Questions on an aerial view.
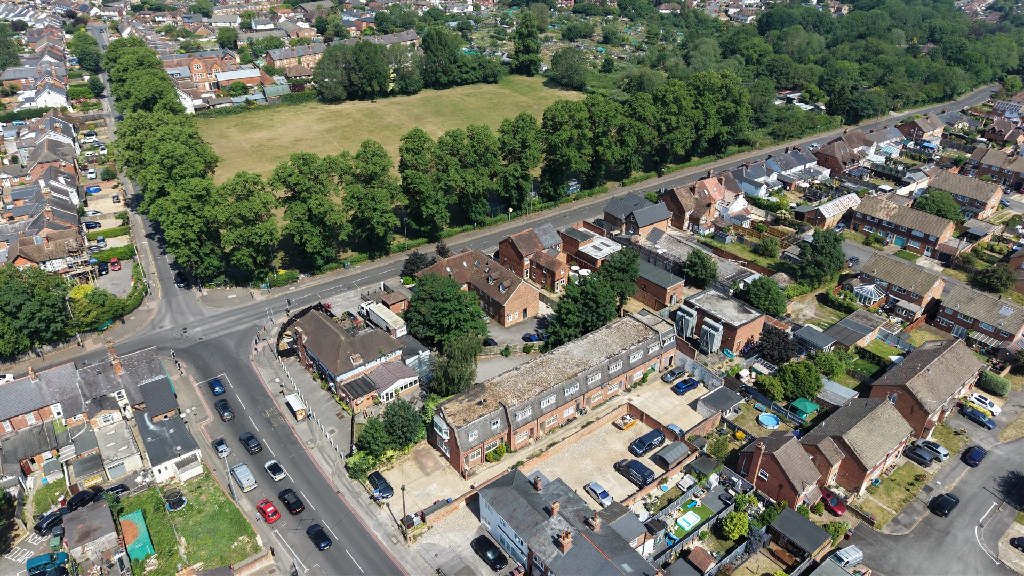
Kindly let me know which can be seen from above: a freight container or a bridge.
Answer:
freight container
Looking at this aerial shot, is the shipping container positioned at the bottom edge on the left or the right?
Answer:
left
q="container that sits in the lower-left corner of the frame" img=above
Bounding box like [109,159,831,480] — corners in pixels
[130,506,159,575]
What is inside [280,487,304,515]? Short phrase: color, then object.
black car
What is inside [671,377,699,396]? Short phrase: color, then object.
blue car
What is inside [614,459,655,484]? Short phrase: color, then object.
black vehicle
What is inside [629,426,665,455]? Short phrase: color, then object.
black van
